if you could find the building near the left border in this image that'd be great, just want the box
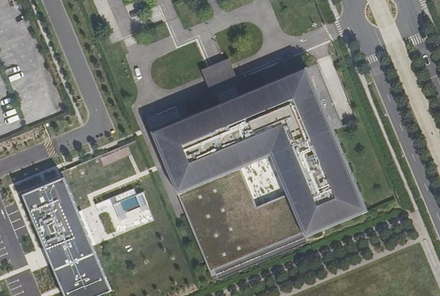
[21,164,111,296]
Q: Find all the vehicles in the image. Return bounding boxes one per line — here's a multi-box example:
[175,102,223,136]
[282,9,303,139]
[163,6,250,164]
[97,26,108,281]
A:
[133,64,142,79]
[8,72,23,82]
[14,14,26,22]
[4,108,18,118]
[0,97,12,104]
[8,0,16,8]
[6,64,20,76]
[422,53,430,66]
[6,114,20,124]
[2,102,14,111]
